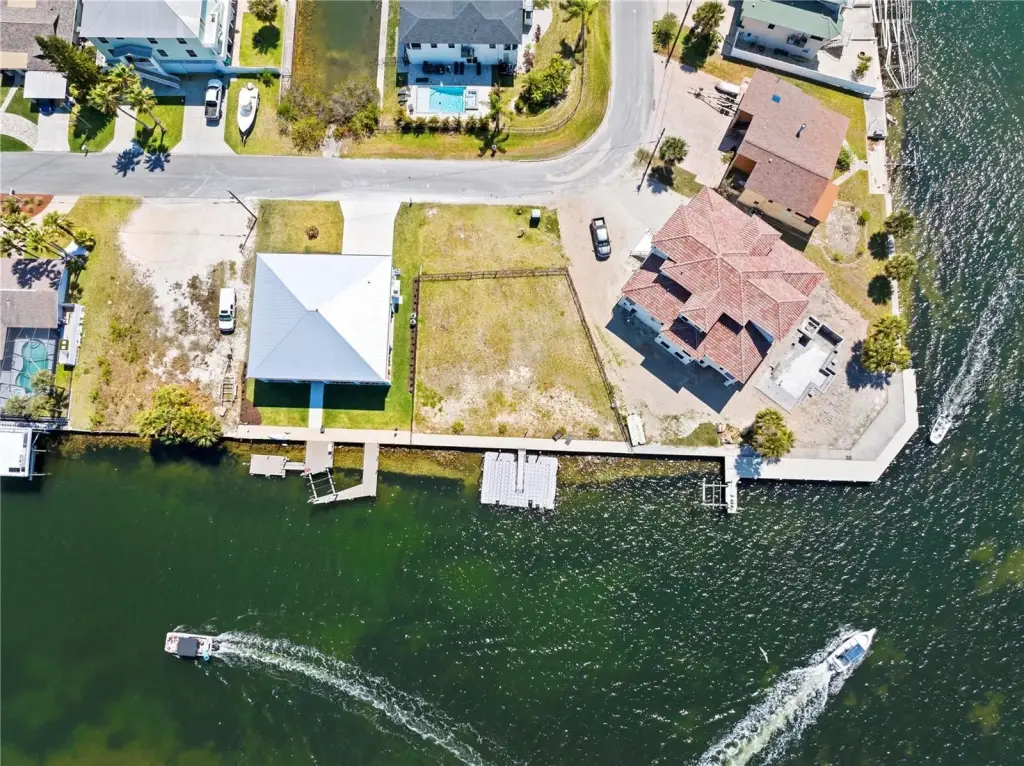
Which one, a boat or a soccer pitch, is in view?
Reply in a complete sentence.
There is a boat in the scene.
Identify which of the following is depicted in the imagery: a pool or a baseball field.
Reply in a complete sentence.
The one in the frame is a pool.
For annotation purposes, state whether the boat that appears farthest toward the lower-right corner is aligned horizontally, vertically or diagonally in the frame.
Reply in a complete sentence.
The boat that appears farthest toward the lower-right corner has been laid out diagonally relative to the frame.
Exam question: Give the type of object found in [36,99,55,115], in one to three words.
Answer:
car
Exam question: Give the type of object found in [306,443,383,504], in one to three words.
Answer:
pier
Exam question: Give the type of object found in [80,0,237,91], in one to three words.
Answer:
house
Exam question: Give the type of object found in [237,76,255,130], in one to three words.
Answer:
boat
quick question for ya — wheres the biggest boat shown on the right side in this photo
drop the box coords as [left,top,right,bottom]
[823,631,876,676]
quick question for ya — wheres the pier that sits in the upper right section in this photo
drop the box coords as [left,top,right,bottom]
[877,0,919,95]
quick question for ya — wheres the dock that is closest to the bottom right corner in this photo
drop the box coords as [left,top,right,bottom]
[722,459,739,513]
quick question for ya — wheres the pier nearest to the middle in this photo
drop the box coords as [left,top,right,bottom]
[480,452,557,509]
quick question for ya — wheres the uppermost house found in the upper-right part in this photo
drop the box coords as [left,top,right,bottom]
[732,0,849,60]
